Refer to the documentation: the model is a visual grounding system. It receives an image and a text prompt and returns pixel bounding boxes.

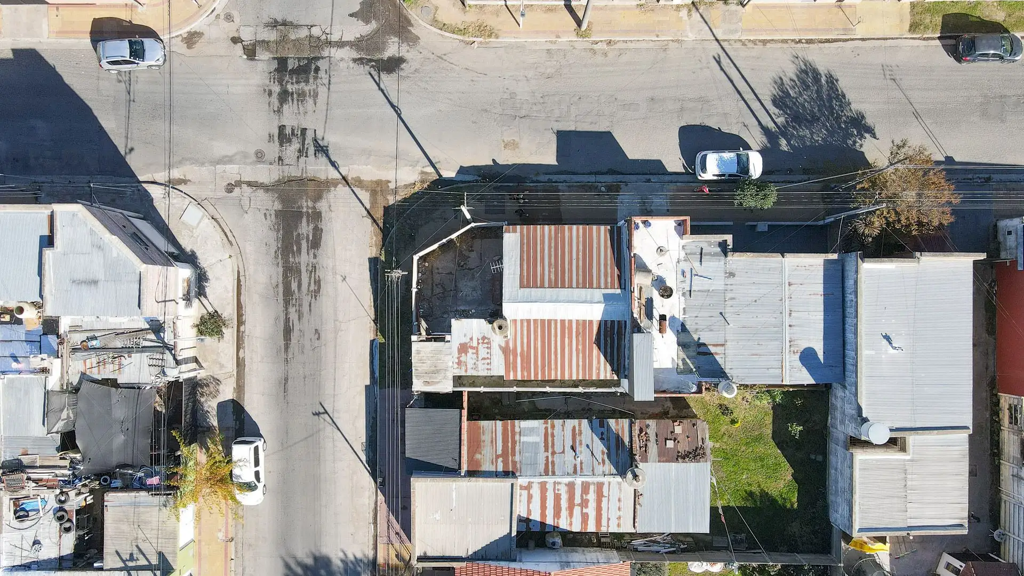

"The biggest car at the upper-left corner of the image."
[89,34,163,72]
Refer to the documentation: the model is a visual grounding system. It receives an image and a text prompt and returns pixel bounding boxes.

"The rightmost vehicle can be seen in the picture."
[957,30,1024,68]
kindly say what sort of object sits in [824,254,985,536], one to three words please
house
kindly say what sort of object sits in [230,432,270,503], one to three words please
car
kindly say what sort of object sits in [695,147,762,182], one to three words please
car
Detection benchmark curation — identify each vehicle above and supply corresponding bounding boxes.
[230,432,270,503]
[695,147,762,182]
[89,34,163,72]
[693,182,724,196]
[957,30,1024,68]
[504,188,533,203]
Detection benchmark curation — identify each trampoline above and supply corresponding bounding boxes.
[852,551,897,576]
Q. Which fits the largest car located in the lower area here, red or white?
white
